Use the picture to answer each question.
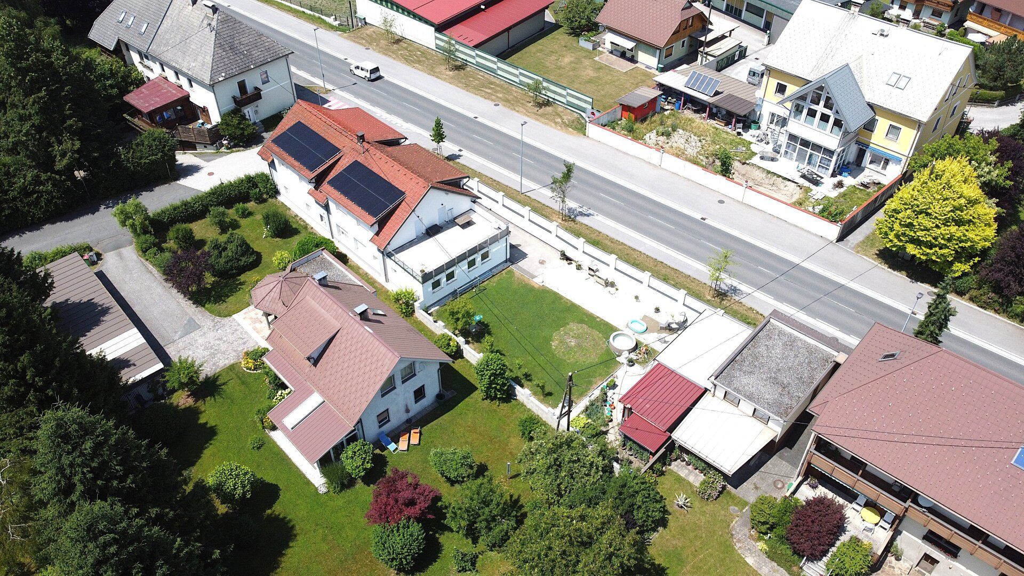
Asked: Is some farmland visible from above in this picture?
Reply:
No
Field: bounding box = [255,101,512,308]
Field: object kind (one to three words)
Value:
house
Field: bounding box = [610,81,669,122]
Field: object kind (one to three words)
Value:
shed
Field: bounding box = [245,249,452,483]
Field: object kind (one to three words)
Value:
house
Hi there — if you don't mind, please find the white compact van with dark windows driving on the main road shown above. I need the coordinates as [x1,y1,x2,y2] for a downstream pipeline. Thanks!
[349,60,380,79]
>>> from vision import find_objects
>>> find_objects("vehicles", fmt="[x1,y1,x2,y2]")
[749,65,765,82]
[349,60,380,79]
